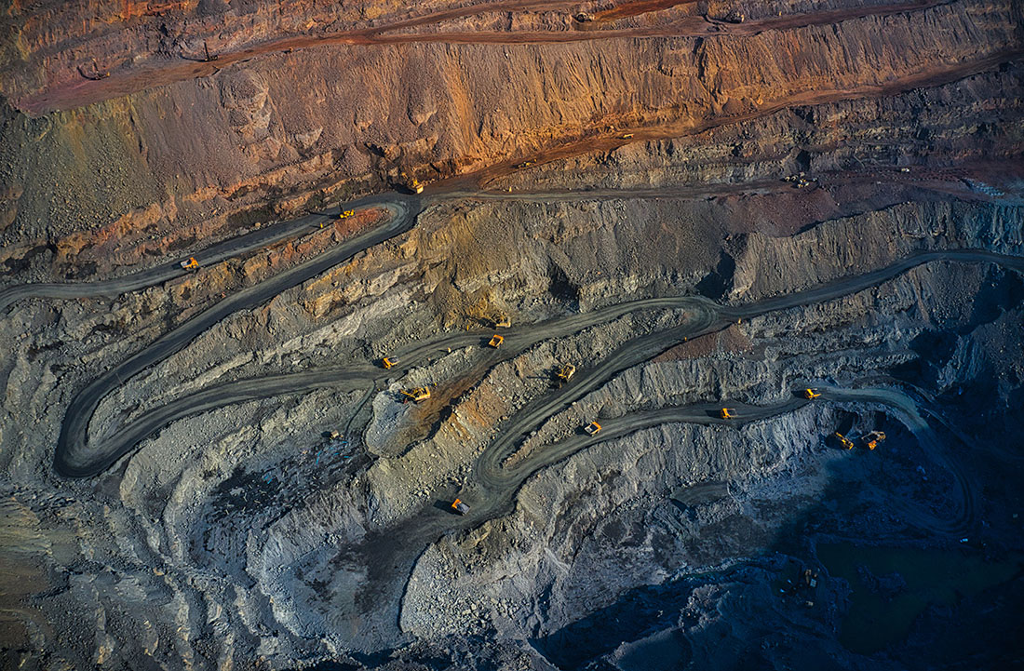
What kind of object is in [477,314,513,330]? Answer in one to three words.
work vehicle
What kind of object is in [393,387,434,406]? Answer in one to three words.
work vehicle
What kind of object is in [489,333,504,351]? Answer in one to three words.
vehicle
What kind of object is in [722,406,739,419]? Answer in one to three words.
vehicle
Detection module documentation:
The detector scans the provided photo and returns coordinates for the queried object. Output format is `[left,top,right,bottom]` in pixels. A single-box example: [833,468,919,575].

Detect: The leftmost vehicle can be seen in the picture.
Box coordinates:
[179,254,197,270]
